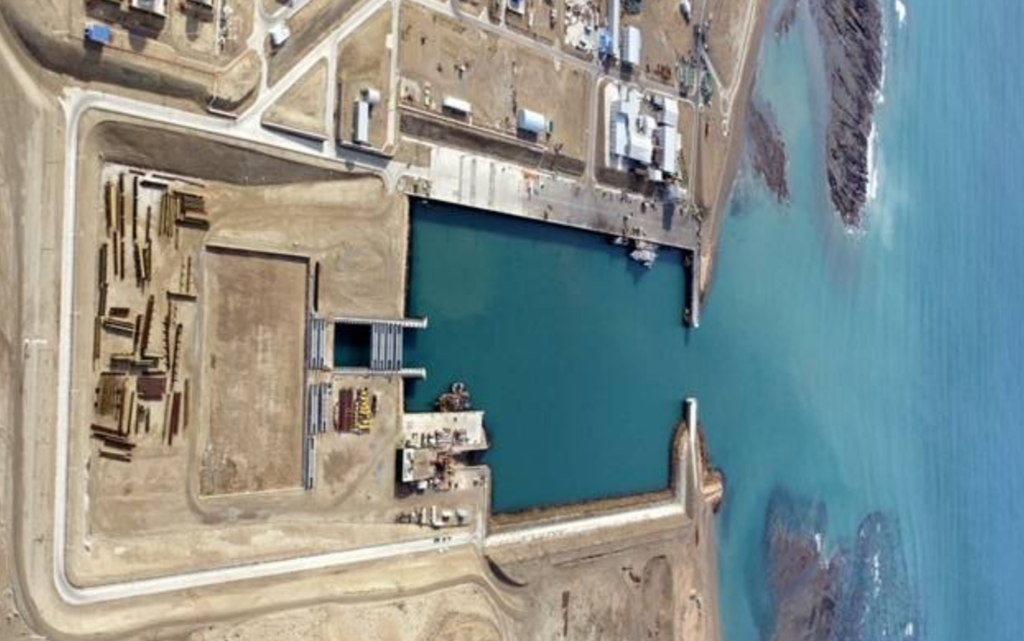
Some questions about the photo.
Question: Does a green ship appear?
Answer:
No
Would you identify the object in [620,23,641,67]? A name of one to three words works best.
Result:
building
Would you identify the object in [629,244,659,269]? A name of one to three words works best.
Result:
ship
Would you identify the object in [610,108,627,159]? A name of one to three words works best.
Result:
building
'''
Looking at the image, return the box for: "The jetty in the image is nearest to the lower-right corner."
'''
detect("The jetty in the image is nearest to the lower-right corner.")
[686,398,698,472]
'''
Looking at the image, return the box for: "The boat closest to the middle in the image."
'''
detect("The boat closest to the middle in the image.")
[436,384,470,412]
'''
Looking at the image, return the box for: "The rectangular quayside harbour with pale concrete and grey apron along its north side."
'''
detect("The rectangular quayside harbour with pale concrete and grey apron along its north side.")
[397,147,700,411]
